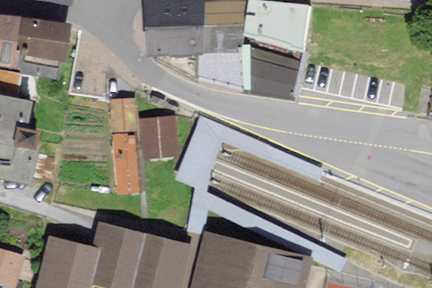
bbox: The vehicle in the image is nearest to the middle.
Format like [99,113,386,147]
[164,98,180,110]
